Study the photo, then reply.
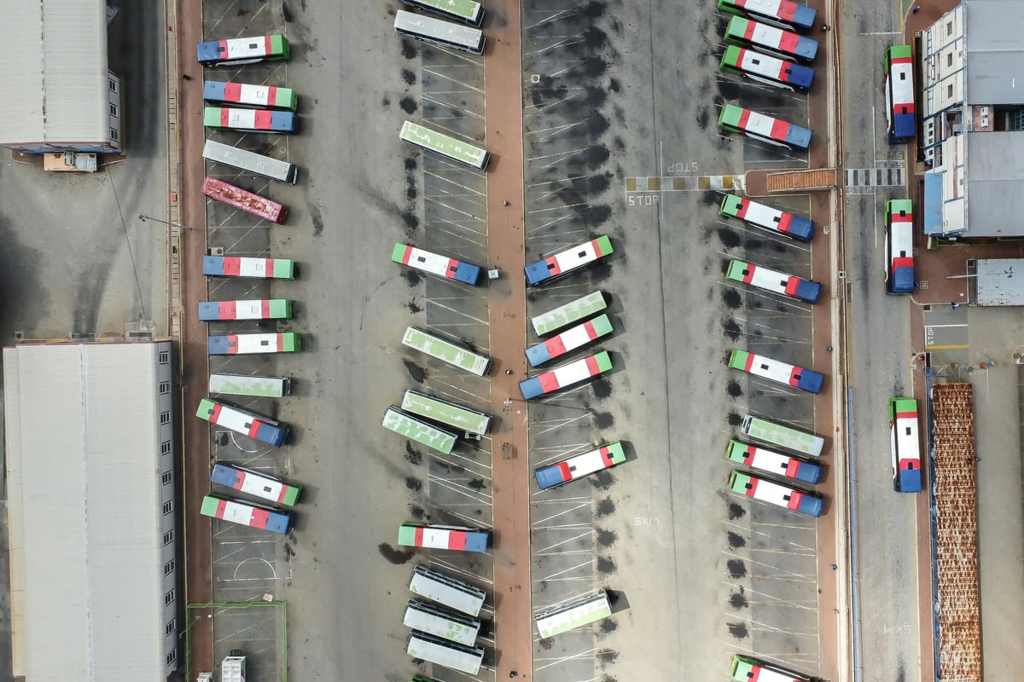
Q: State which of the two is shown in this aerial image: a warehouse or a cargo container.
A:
warehouse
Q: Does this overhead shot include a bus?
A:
Yes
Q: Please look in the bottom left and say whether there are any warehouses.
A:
Yes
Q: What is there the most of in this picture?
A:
paved ground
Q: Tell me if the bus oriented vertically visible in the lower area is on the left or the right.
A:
right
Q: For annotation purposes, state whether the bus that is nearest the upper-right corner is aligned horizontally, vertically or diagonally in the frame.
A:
vertically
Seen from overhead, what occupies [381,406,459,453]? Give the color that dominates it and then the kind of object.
white bus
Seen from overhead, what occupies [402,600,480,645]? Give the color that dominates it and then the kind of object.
white bus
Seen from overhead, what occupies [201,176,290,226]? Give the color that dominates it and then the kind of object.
pink bus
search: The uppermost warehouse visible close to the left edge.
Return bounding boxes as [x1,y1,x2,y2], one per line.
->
[0,0,127,155]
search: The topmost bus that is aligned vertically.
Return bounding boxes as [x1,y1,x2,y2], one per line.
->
[880,44,914,144]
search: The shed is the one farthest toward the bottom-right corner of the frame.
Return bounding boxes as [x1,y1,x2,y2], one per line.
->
[932,382,982,682]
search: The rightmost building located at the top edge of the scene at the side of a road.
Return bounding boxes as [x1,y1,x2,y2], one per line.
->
[923,3,1024,247]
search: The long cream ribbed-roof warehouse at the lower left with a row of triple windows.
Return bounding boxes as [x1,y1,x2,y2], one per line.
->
[6,344,186,682]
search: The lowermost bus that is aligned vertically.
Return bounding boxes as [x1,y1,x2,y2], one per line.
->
[885,395,920,493]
